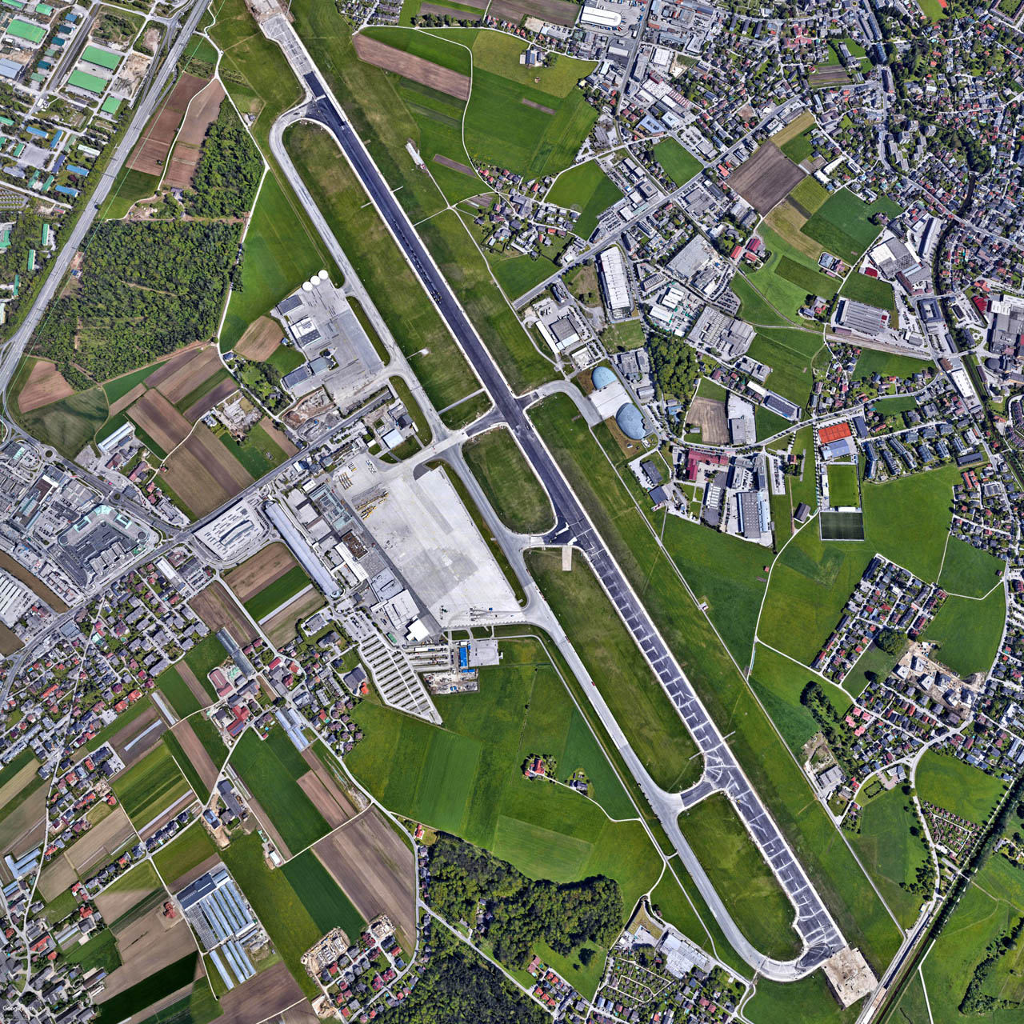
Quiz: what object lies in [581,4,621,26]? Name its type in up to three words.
building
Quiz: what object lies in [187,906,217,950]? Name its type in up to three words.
greenhouse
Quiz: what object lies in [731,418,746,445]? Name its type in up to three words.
building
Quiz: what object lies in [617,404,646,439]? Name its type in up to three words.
hangar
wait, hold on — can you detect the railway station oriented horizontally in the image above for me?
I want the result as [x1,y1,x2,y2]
[824,331,931,359]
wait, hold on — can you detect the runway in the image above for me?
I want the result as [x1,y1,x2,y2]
[262,14,840,948]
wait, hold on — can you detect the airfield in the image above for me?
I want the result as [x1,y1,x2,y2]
[259,14,905,1010]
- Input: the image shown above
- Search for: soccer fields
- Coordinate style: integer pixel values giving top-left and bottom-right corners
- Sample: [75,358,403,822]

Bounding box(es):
[826,465,859,507]
[819,511,864,541]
